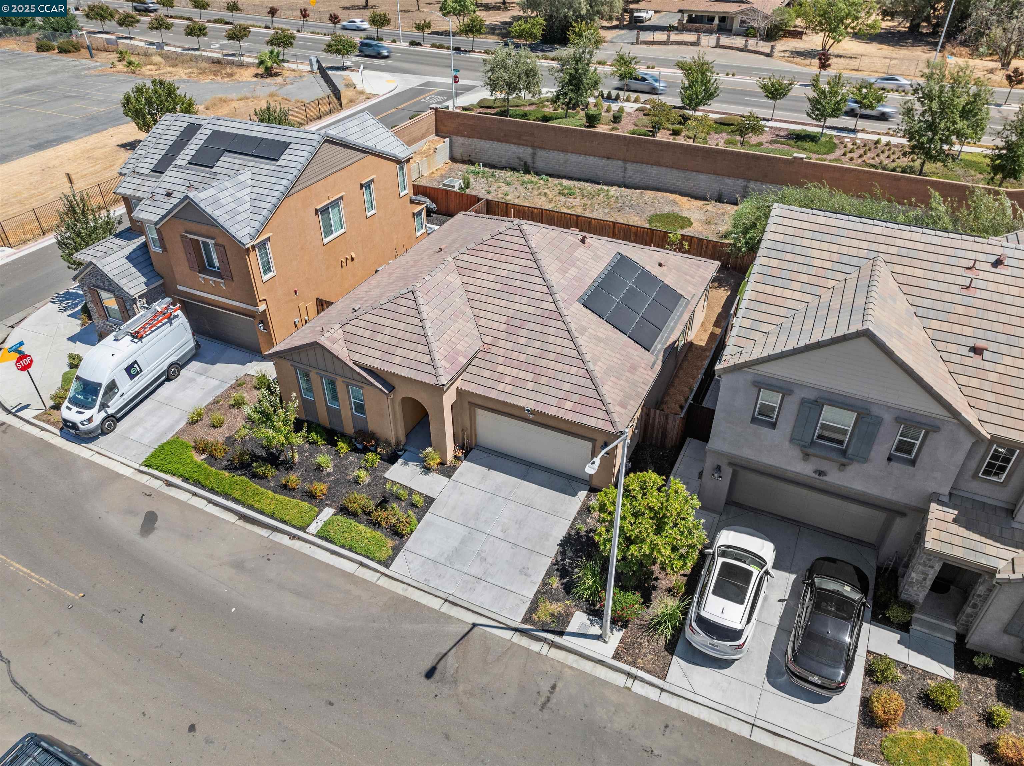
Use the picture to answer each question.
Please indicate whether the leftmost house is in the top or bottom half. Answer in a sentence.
It is in the top half that the leftmost house appears.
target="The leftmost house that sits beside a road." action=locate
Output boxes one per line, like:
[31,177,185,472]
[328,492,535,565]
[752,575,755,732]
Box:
[66,110,431,356]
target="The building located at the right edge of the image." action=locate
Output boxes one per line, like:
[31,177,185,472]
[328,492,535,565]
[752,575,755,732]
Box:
[699,203,1024,668]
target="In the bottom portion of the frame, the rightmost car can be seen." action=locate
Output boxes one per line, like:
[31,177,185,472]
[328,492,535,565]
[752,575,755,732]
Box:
[785,549,878,698]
